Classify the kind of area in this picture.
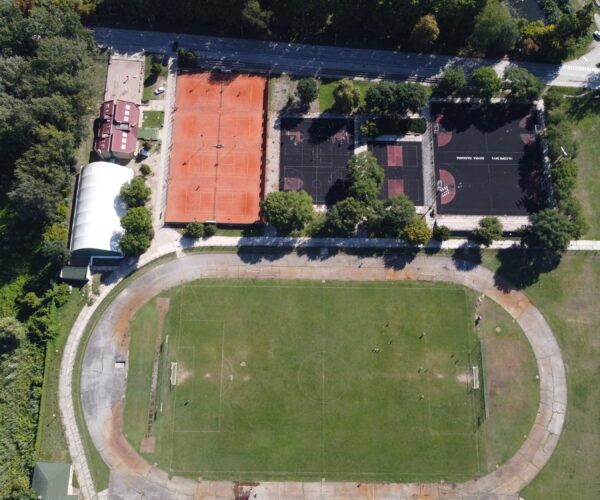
sports ground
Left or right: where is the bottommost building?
left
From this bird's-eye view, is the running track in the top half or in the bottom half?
bottom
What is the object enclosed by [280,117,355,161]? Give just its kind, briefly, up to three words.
basketball court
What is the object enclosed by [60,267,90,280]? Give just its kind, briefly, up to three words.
shed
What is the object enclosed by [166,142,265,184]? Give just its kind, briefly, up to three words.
tennis court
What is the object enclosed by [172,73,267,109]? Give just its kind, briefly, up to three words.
tennis court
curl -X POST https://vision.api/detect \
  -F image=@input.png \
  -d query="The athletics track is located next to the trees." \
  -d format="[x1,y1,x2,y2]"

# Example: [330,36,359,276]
[81,252,567,500]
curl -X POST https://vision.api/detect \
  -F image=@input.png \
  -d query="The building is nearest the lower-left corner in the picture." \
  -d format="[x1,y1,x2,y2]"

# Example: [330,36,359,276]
[29,462,78,500]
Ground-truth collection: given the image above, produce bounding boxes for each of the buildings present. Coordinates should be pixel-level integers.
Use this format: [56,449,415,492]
[60,267,90,280]
[29,462,78,500]
[96,101,141,157]
[69,162,134,256]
